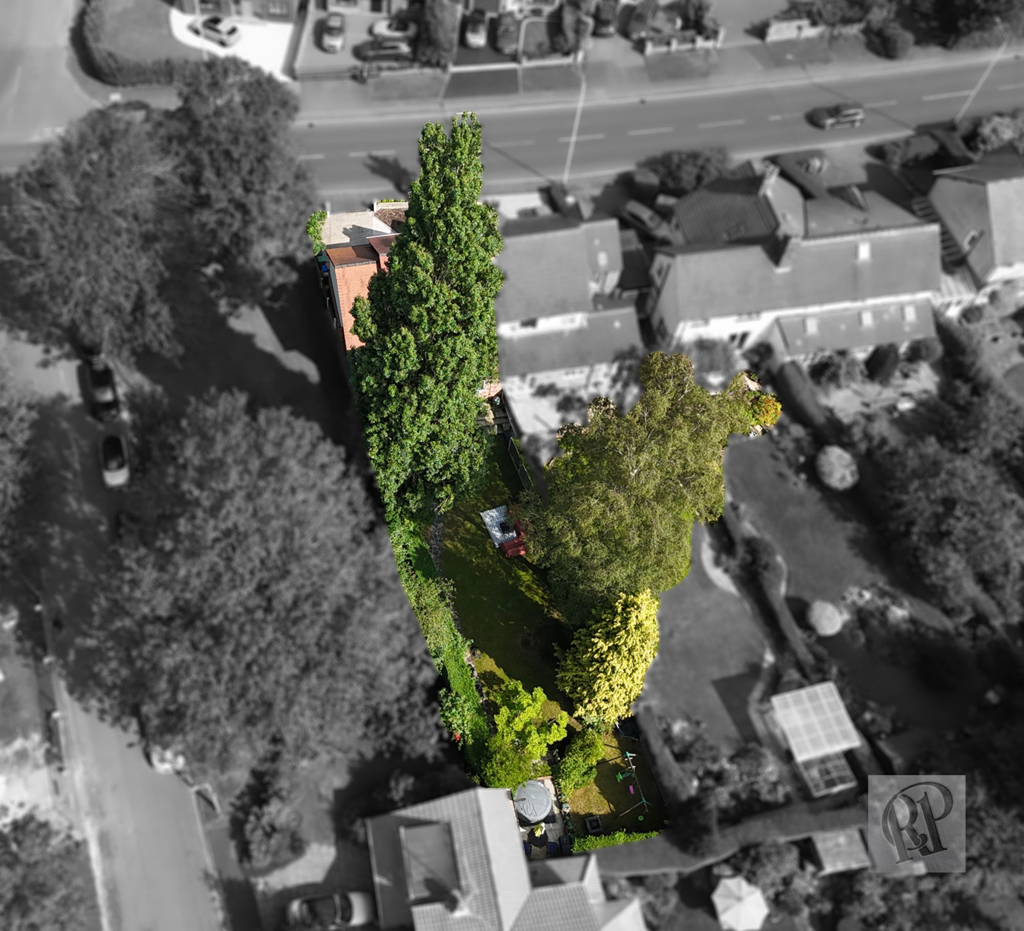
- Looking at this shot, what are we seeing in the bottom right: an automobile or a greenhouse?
greenhouse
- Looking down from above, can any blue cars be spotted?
No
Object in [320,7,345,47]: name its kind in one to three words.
car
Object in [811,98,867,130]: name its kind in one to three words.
car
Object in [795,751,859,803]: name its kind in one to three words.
greenhouse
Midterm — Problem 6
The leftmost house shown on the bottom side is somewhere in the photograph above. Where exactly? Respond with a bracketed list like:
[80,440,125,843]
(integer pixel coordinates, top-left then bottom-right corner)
[365,788,647,931]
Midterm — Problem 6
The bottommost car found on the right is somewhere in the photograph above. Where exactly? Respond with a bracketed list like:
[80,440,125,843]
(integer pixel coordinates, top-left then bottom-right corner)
[621,194,675,242]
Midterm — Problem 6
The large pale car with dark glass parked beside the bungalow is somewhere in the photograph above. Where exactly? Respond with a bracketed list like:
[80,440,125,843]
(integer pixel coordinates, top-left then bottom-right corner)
[288,890,376,931]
